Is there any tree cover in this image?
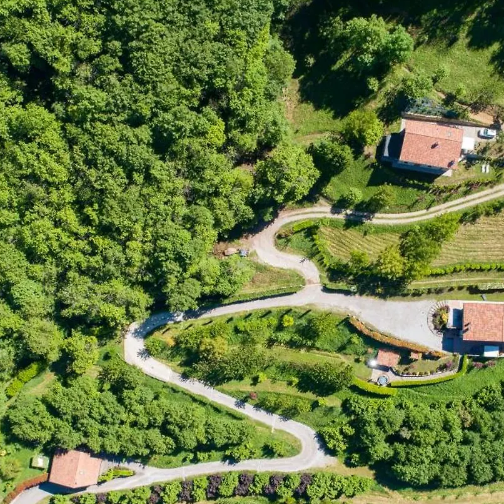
Yes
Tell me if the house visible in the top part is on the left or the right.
right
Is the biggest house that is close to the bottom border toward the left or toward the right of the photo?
left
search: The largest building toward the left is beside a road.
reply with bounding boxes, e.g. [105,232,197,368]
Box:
[48,451,102,489]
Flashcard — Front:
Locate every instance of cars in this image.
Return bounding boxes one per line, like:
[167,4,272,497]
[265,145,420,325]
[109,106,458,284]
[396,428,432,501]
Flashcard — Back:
[481,129,497,137]
[239,250,248,256]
